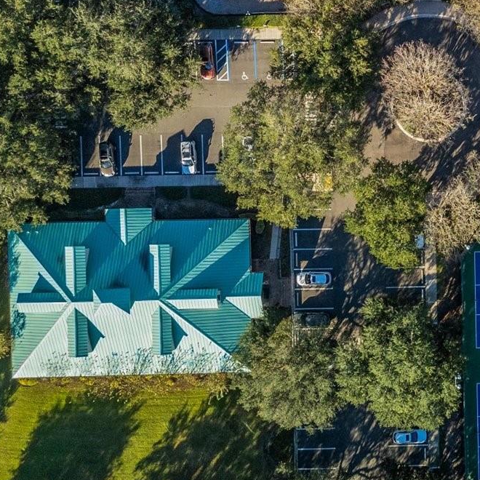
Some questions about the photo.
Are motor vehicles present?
Yes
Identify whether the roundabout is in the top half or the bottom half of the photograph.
top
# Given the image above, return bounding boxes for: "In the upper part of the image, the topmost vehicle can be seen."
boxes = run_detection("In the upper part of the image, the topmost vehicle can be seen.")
[198,42,217,80]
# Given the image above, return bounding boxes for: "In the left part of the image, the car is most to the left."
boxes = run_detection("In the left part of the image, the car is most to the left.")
[97,140,117,176]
